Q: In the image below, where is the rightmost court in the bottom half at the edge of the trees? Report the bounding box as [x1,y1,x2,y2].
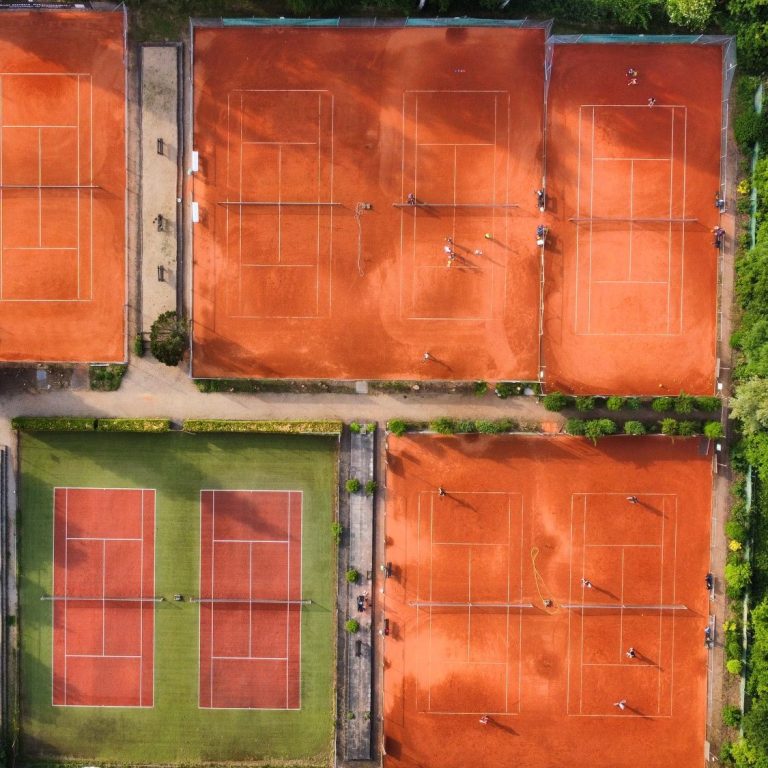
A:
[544,435,712,768]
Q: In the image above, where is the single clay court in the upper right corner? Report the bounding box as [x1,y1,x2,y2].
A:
[541,44,722,396]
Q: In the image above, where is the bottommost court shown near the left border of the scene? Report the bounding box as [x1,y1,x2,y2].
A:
[19,429,178,767]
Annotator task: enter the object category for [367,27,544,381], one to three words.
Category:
tennis court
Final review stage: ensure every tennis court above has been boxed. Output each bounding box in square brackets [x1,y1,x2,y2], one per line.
[367,27,544,381]
[19,429,178,767]
[177,430,338,767]
[541,44,722,396]
[544,435,712,768]
[0,10,124,361]
[192,26,368,380]
[384,433,546,768]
